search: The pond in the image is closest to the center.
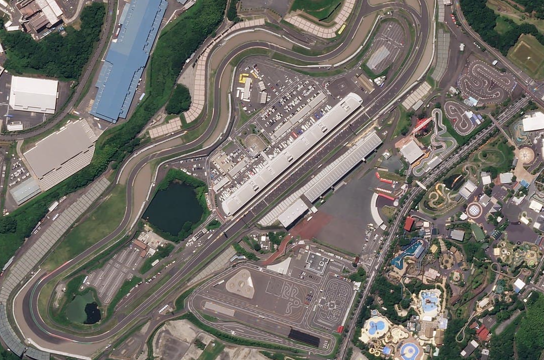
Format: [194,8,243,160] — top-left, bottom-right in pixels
[144,182,205,236]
